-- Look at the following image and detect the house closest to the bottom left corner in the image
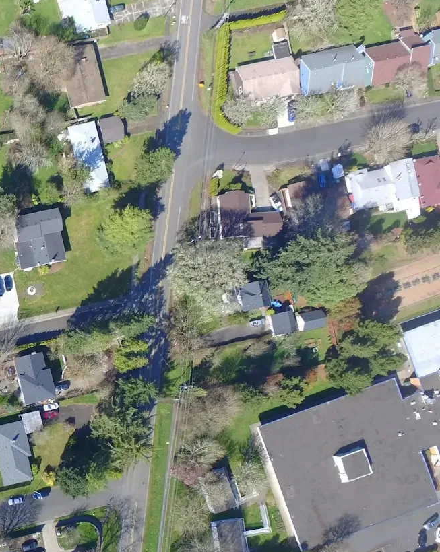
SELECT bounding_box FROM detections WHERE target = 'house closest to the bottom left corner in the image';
[0,411,43,485]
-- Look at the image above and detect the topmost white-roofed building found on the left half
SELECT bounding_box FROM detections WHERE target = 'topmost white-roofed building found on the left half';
[57,0,111,30]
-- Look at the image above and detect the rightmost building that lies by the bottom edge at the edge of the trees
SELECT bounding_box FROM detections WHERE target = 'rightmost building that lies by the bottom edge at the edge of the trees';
[251,379,440,549]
